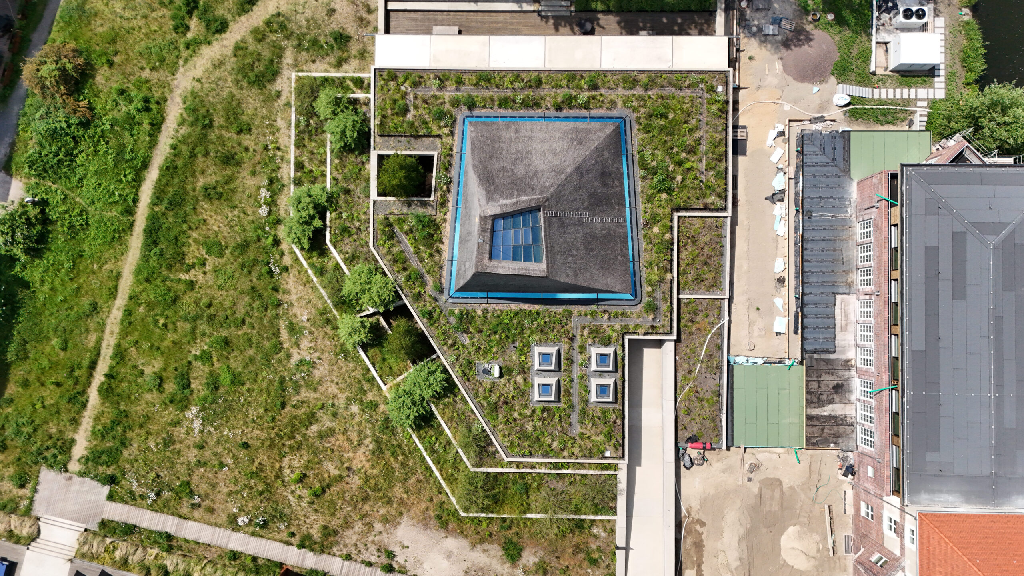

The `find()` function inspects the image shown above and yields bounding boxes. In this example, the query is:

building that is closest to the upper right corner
[885,33,940,72]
